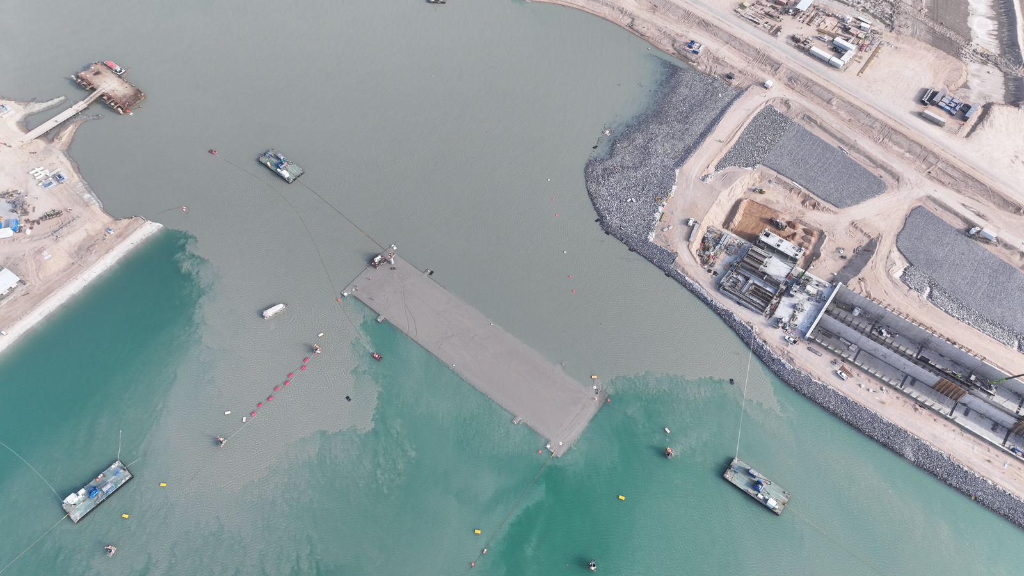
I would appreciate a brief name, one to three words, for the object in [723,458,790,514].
ship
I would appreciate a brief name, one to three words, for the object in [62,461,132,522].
ship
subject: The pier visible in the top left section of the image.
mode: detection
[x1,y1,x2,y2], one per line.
[18,86,107,143]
